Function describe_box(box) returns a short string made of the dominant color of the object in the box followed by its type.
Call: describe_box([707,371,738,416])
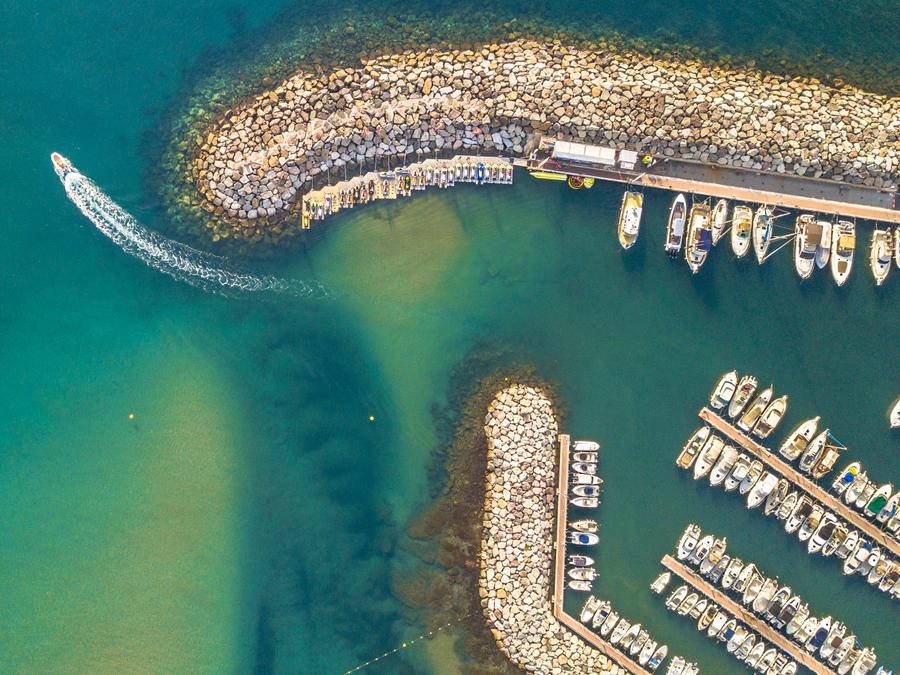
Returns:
white boat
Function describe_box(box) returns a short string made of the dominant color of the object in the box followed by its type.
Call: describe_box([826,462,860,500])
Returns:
white boat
